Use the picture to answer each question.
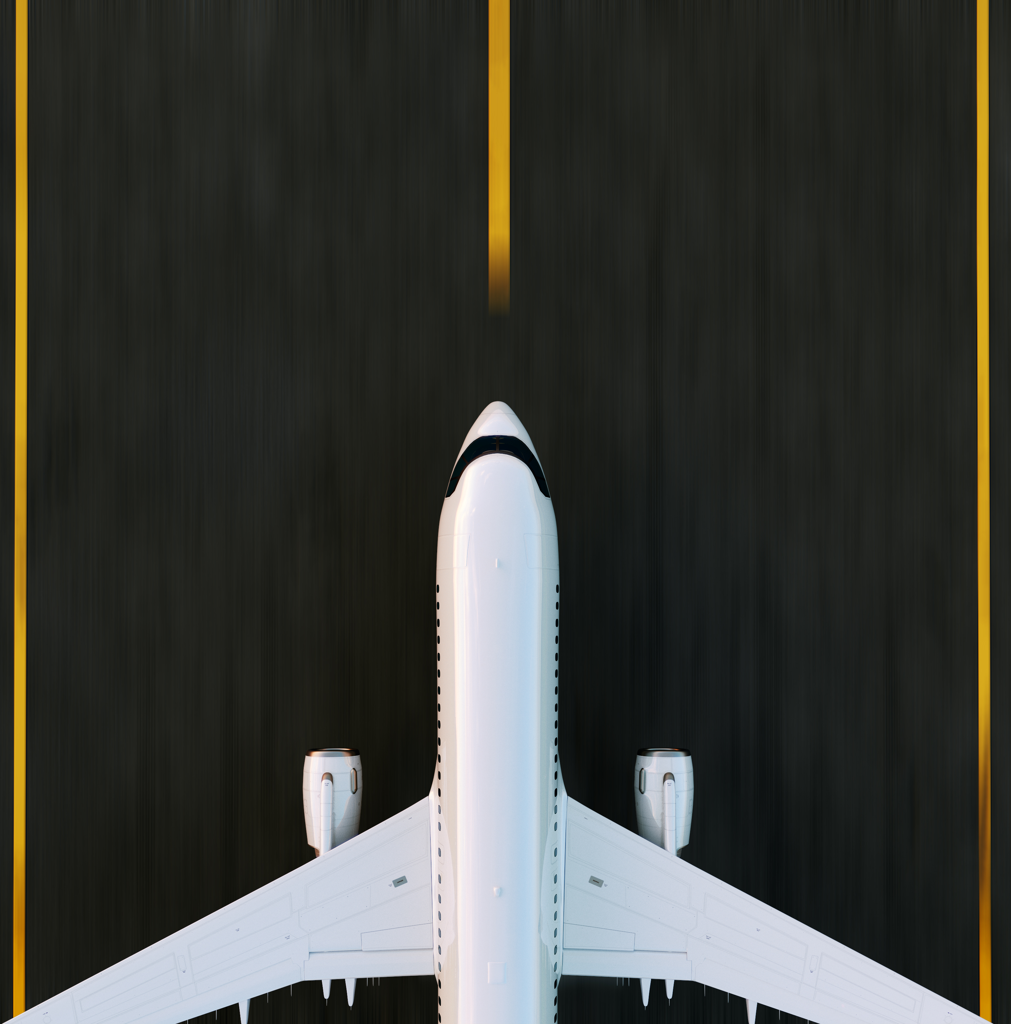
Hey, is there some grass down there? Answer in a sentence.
No, the scene doesn't show any grass.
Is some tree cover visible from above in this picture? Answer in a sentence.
No, there's no tree cover in this view.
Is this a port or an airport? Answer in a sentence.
The picture captures an airport.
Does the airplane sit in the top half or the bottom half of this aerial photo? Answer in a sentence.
The bottom half of the photo is where the airplane is.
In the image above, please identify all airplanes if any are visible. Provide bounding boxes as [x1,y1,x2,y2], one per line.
[1,401,994,1024]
